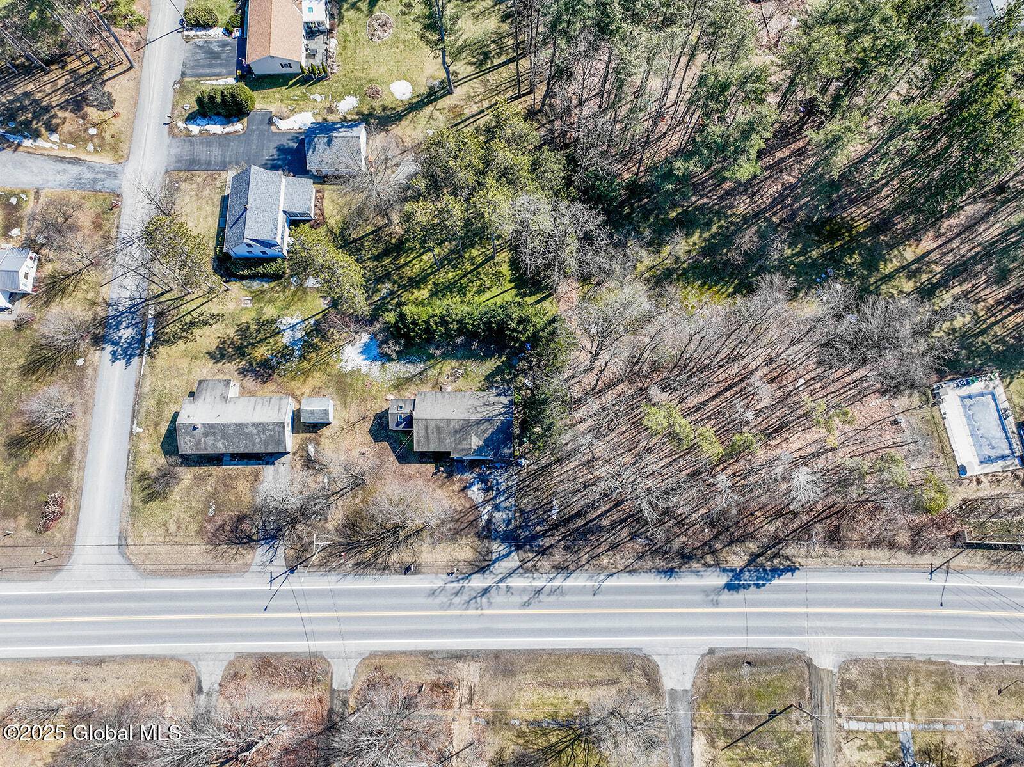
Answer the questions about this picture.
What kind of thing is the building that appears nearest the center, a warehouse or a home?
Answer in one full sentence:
The building that appears nearest the center appears to be a home.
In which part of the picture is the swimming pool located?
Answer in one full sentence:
You can find the swimming pool in the right area of the picture.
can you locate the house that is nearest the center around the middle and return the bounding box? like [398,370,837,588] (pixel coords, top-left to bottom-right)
[388,392,513,459]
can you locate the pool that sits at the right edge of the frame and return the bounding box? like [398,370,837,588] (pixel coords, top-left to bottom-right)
[932,376,1024,477]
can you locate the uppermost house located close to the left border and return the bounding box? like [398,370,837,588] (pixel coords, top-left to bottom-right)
[0,247,37,302]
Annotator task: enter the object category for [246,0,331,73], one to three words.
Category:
house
